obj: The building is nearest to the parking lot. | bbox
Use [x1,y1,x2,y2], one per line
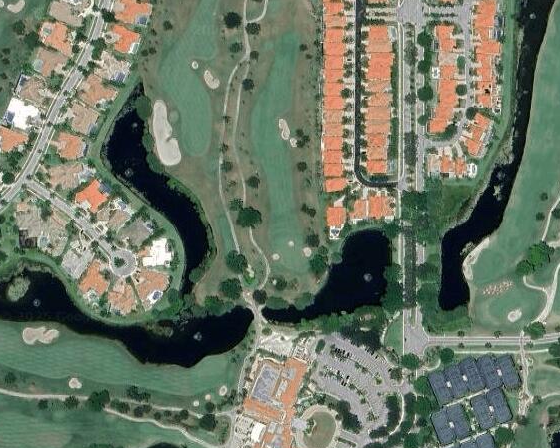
[241,356,310,448]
